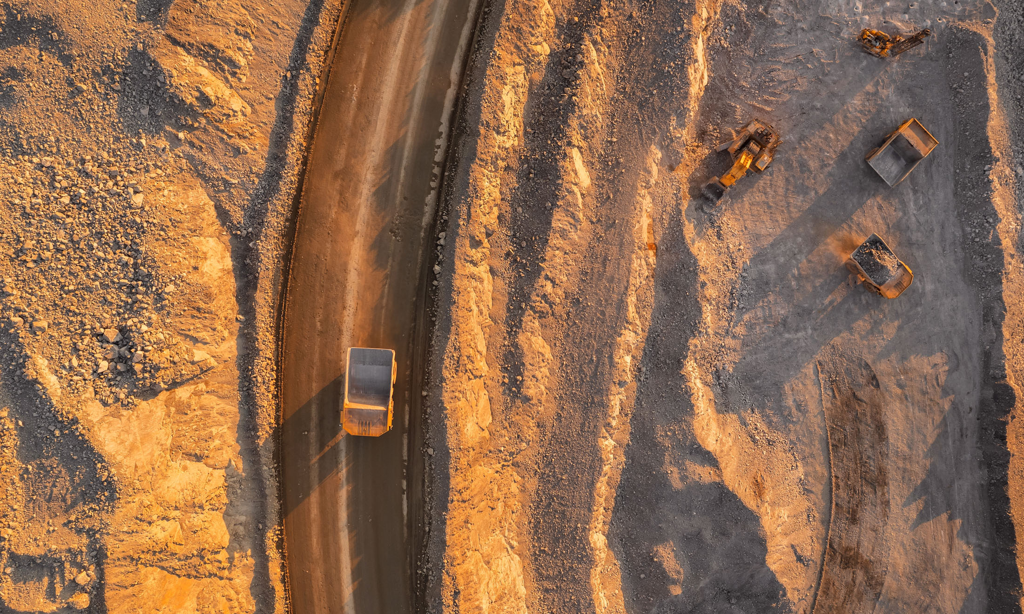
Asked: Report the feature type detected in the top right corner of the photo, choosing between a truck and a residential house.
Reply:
truck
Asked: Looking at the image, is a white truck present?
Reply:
No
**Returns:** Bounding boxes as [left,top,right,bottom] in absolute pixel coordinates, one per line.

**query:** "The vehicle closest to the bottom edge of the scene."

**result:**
[338,346,401,437]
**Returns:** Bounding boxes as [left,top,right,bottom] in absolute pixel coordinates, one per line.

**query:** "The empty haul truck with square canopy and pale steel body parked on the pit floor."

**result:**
[863,117,939,187]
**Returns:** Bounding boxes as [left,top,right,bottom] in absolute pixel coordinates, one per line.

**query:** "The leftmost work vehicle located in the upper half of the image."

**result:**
[696,122,778,206]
